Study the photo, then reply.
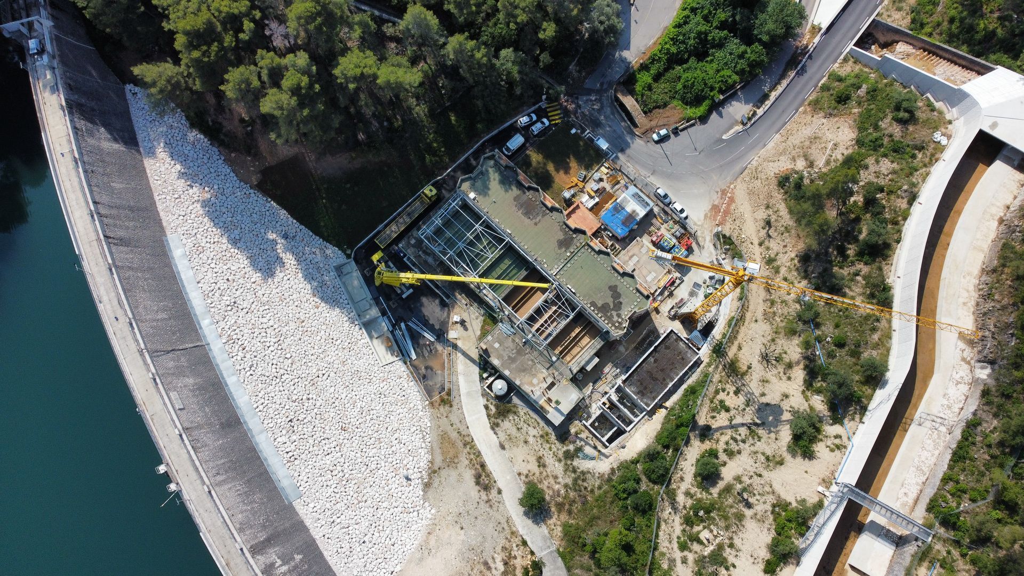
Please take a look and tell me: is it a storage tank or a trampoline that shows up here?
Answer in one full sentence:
Of the two, only a storage tank appears.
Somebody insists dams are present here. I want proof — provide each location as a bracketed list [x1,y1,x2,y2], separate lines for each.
[12,0,336,576]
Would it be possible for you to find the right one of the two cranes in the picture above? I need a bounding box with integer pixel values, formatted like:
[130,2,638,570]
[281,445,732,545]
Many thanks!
[648,249,986,342]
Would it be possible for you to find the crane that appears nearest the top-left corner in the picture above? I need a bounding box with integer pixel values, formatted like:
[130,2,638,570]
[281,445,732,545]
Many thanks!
[366,248,551,308]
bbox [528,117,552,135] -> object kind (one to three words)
car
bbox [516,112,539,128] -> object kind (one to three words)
car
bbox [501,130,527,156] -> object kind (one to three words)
vehicle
